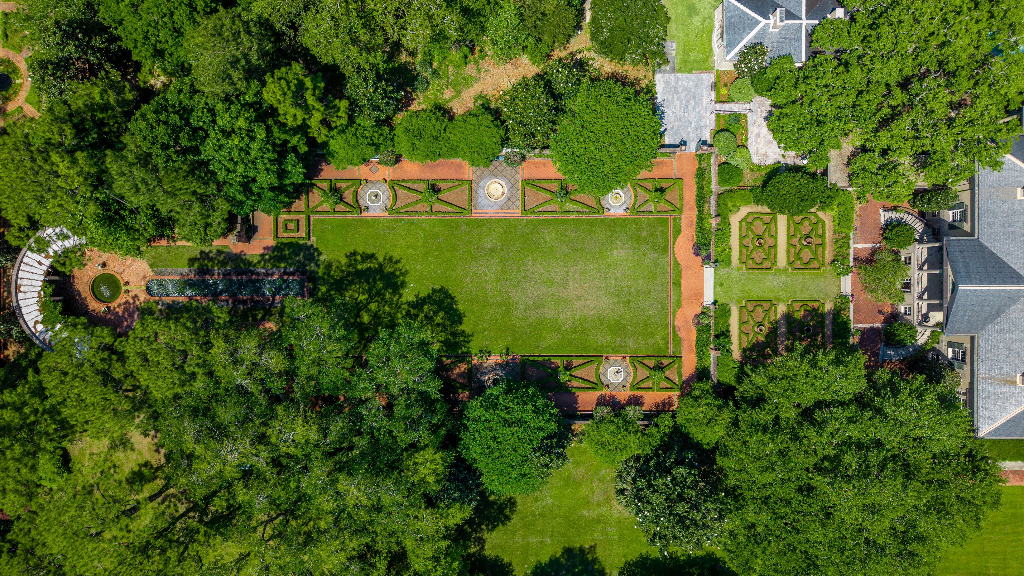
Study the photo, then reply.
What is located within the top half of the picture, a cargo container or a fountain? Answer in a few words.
fountain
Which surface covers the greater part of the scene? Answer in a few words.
trees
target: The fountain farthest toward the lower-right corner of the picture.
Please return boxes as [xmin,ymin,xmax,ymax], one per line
[608,366,624,382]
